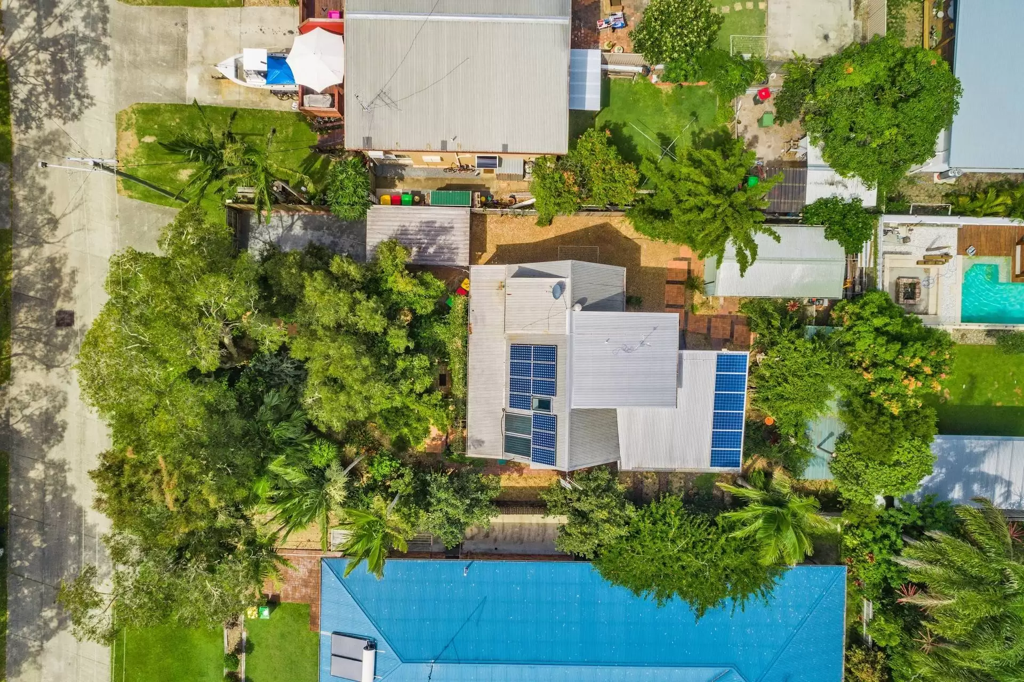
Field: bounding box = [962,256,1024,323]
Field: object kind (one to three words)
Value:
swimming pool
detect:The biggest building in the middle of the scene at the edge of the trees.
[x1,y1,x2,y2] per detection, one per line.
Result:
[465,259,751,474]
